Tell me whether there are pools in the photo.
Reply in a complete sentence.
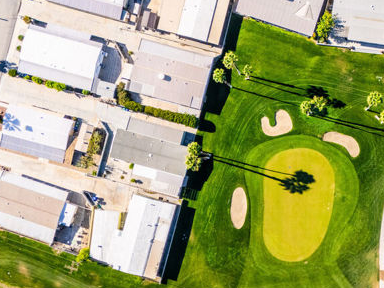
No, there's no pool here.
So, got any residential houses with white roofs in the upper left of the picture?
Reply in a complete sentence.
Yes, a residential house with a white roof appears in the upper left of the picture.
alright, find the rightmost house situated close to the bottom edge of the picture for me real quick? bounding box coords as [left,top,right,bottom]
[90,195,180,281]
